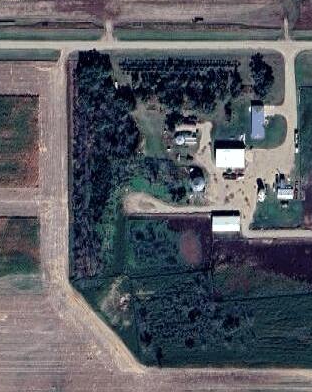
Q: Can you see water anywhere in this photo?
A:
No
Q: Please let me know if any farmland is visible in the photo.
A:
Yes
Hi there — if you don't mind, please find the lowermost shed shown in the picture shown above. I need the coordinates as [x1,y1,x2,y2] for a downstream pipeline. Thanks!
[212,216,241,232]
